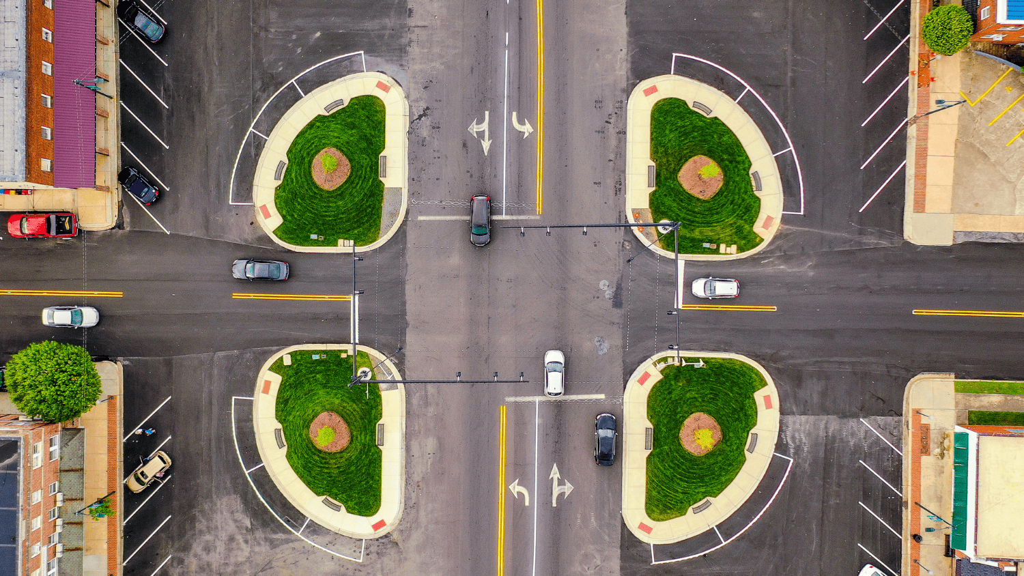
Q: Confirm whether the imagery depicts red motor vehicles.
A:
Yes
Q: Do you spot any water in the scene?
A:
No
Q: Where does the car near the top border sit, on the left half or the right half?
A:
left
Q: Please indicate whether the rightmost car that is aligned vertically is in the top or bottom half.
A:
bottom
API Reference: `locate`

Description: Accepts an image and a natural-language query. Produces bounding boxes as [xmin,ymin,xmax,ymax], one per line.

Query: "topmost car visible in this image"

[116,0,170,44]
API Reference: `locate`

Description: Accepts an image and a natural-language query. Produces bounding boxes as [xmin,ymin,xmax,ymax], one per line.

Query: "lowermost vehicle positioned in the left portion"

[125,448,176,494]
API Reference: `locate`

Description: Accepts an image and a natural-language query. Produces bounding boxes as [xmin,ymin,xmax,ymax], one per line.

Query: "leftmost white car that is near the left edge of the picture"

[43,304,102,329]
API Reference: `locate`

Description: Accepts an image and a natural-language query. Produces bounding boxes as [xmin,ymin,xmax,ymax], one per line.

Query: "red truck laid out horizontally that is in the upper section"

[10,211,80,238]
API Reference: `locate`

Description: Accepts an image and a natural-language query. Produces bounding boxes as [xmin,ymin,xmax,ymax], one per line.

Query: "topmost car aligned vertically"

[468,194,493,246]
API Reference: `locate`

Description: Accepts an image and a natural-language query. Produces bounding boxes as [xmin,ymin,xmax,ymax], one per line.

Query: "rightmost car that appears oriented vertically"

[593,413,618,466]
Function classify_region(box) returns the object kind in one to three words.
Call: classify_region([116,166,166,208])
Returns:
car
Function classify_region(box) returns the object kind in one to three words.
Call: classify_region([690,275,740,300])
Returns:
car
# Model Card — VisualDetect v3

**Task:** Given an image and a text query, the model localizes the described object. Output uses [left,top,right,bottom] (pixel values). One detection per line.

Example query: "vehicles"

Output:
[690,275,740,300]
[856,563,885,576]
[593,413,618,466]
[10,211,80,238]
[125,448,176,494]
[43,304,102,329]
[542,349,567,398]
[233,256,291,282]
[116,0,170,44]
[468,194,493,246]
[116,166,166,208]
